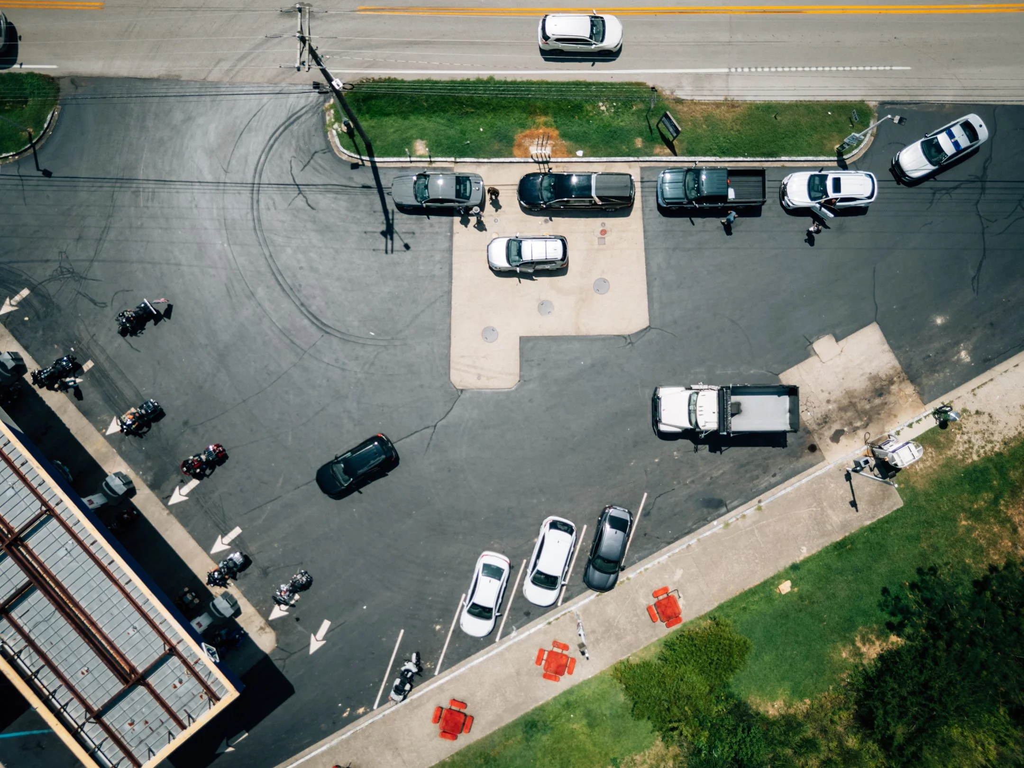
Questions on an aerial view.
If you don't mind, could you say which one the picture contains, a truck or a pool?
truck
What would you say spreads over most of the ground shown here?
paved ground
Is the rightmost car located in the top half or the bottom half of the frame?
top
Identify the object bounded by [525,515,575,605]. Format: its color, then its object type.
white car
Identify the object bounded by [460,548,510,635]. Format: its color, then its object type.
white car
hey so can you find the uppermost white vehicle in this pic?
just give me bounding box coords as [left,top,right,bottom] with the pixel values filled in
[538,9,622,56]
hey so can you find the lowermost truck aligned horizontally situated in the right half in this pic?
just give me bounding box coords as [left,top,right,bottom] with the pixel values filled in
[648,376,802,443]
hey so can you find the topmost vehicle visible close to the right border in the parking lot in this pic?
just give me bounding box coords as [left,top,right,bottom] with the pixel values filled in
[889,117,987,186]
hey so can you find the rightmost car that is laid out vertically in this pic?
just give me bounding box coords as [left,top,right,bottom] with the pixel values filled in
[584,503,630,590]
